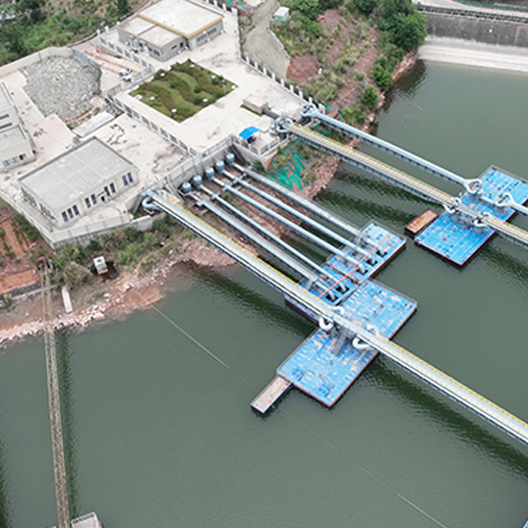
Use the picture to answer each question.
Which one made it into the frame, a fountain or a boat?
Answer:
boat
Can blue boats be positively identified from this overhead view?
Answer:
No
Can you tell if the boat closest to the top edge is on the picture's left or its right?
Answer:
right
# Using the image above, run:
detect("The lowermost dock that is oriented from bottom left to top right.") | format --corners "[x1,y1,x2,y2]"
[279,276,417,410]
